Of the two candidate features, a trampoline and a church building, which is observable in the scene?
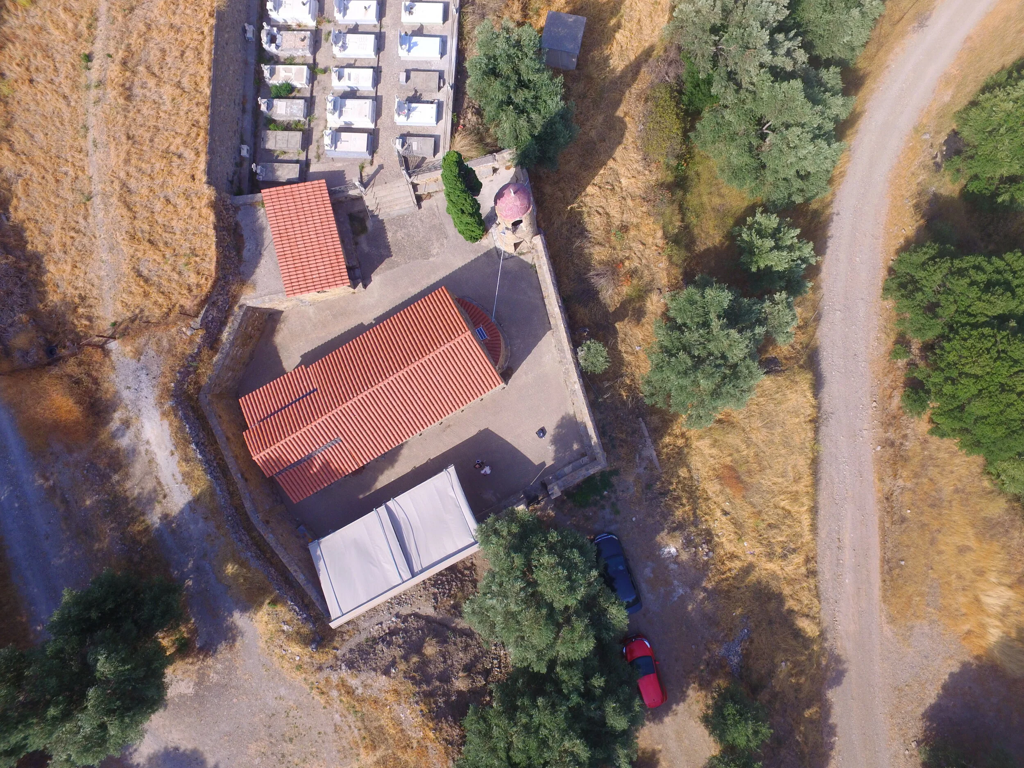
church building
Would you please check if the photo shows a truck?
No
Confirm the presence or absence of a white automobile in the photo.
No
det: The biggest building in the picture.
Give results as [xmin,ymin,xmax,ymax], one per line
[237,283,504,506]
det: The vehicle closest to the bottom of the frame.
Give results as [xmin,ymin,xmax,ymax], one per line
[622,634,673,716]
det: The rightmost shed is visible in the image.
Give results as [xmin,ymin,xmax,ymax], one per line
[541,11,586,75]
